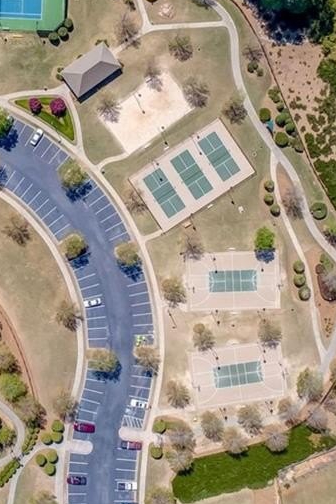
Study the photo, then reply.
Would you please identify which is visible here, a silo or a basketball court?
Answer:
basketball court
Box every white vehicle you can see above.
[118,482,138,491]
[84,298,102,307]
[30,129,44,146]
[130,400,148,409]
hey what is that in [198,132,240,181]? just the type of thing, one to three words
sports court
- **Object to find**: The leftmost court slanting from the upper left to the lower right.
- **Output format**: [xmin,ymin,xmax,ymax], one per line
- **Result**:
[143,168,186,218]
